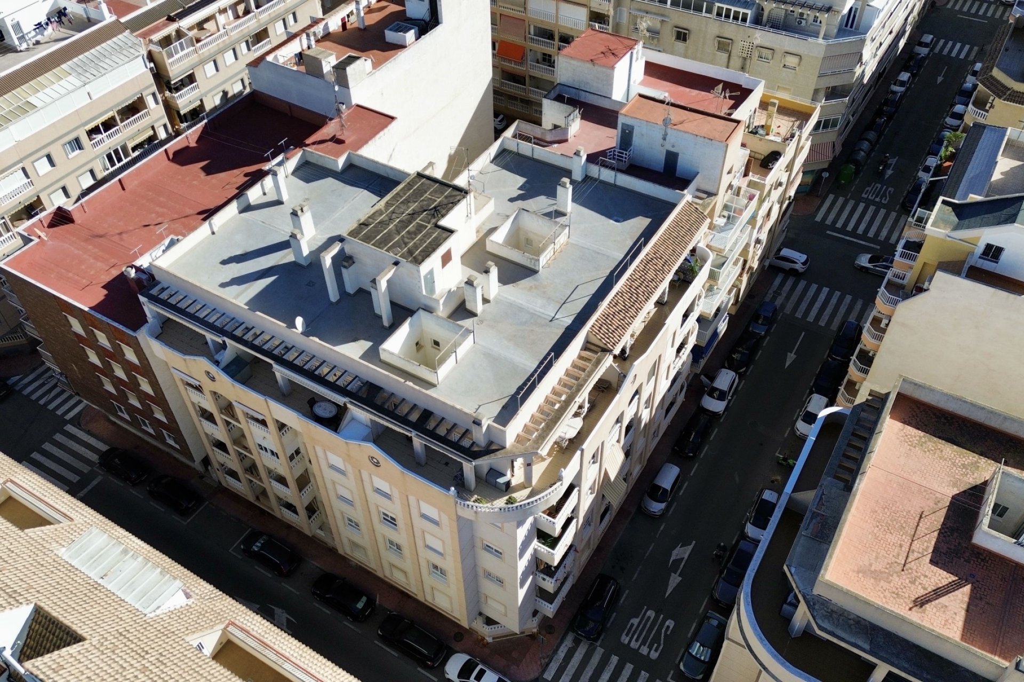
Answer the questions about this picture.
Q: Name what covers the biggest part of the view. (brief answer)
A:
buildings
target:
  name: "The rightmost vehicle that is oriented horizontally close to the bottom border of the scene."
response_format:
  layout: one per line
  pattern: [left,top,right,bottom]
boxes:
[446,652,519,682]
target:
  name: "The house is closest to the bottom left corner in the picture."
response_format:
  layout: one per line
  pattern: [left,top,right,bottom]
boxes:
[0,450,358,682]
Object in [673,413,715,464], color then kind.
black car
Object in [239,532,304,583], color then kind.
black car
